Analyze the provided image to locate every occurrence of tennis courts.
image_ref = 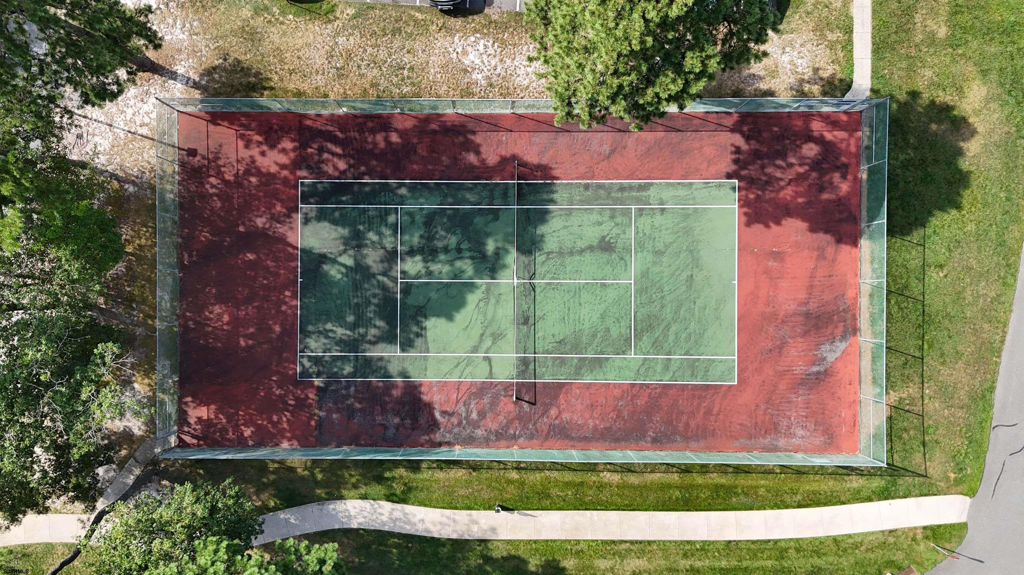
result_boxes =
[177,111,861,454]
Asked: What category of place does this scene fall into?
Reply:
sports ground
